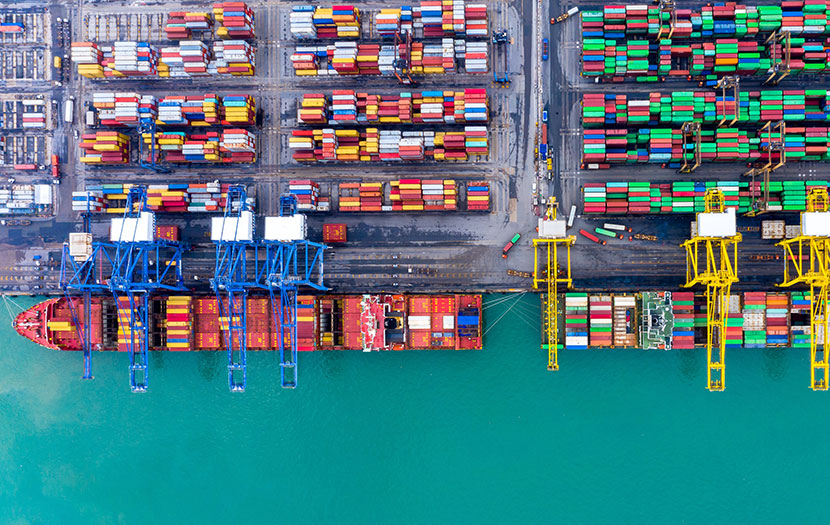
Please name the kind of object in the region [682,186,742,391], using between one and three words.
container crane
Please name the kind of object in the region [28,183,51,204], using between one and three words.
shed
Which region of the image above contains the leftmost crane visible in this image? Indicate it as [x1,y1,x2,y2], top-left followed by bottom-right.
[62,191,143,379]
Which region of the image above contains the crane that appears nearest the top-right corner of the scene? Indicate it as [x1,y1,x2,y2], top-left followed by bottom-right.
[760,35,790,88]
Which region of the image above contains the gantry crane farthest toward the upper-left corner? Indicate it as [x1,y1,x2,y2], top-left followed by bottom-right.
[138,117,178,173]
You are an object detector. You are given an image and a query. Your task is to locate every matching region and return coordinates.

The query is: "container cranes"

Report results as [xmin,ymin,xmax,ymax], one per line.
[674,120,700,174]
[206,177,280,391]
[394,29,419,86]
[62,191,143,379]
[682,186,742,391]
[529,190,575,371]
[779,186,830,391]
[138,117,178,173]
[651,0,675,44]
[712,76,740,132]
[755,122,786,171]
[260,187,330,388]
[739,168,768,218]
[105,178,190,392]
[760,35,790,88]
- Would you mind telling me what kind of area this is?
port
